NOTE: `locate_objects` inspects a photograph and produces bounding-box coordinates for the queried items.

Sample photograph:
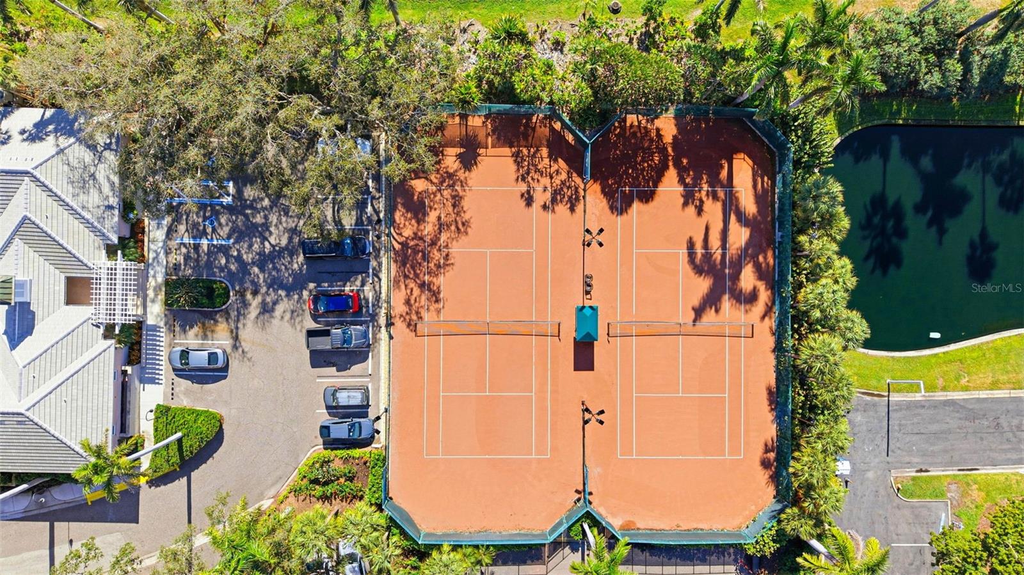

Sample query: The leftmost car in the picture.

[172,346,229,372]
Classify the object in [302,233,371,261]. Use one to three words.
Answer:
truck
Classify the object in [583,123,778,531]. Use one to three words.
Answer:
tennis court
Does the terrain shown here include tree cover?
Yes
